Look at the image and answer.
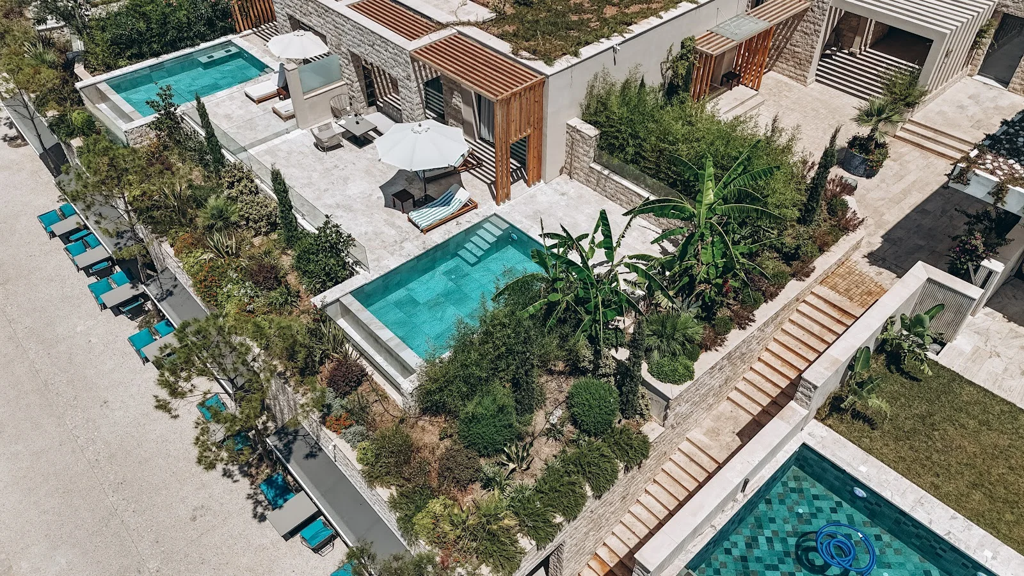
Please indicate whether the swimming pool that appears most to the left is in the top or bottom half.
top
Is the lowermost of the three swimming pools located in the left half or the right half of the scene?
right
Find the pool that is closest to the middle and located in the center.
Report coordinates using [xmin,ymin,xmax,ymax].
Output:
[310,203,593,428]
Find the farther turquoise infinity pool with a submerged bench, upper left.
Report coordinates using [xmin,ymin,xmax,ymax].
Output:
[87,31,288,144]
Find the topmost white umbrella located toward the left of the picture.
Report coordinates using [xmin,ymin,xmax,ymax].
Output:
[264,31,334,63]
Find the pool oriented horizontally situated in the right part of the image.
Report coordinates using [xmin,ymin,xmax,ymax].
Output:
[655,417,1024,576]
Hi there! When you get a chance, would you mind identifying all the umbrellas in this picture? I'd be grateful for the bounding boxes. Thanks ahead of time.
[368,118,471,207]
[264,31,334,63]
